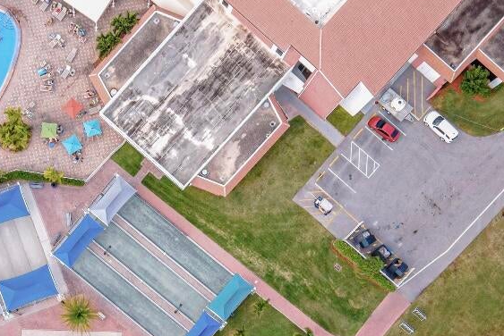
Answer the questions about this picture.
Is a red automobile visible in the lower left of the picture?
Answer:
No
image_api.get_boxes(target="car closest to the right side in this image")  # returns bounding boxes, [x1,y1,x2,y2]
[421,111,459,142]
